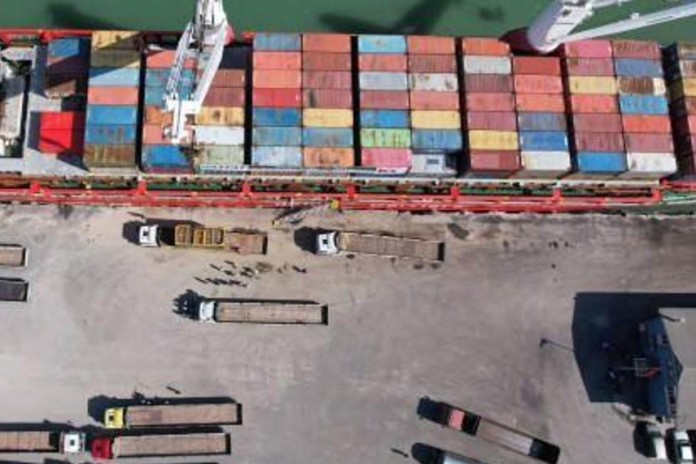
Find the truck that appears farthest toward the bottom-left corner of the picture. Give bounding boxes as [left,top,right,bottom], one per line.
[0,427,91,454]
